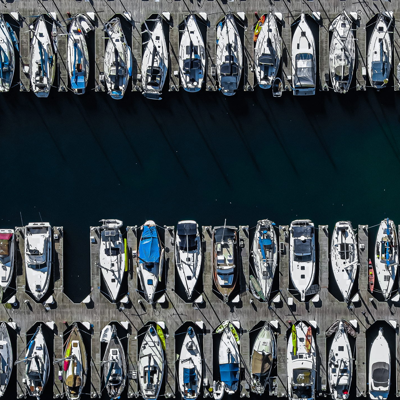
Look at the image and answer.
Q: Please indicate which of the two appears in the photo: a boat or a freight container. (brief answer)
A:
boat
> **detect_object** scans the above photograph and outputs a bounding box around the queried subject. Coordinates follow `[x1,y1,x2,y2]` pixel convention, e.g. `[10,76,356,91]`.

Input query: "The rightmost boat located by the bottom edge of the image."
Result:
[365,328,396,400]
